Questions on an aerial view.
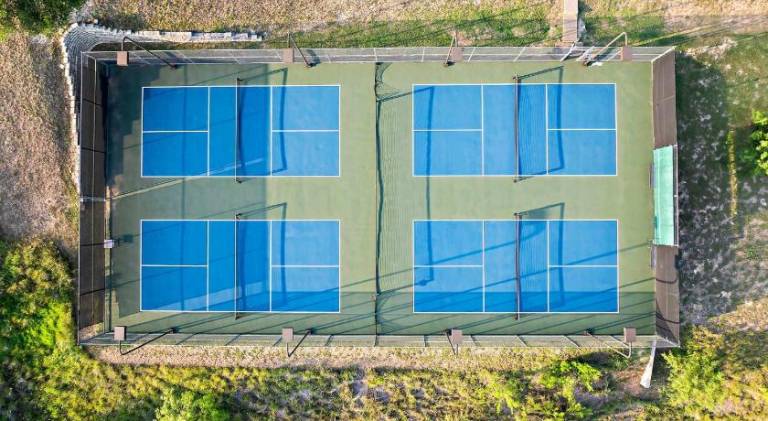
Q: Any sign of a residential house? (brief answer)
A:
No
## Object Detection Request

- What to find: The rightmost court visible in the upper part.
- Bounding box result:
[413,83,617,176]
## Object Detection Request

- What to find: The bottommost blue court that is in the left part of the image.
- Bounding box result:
[141,220,340,312]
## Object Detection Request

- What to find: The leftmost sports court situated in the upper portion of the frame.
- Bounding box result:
[141,86,340,177]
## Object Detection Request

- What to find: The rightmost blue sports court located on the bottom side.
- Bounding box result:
[413,220,619,313]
